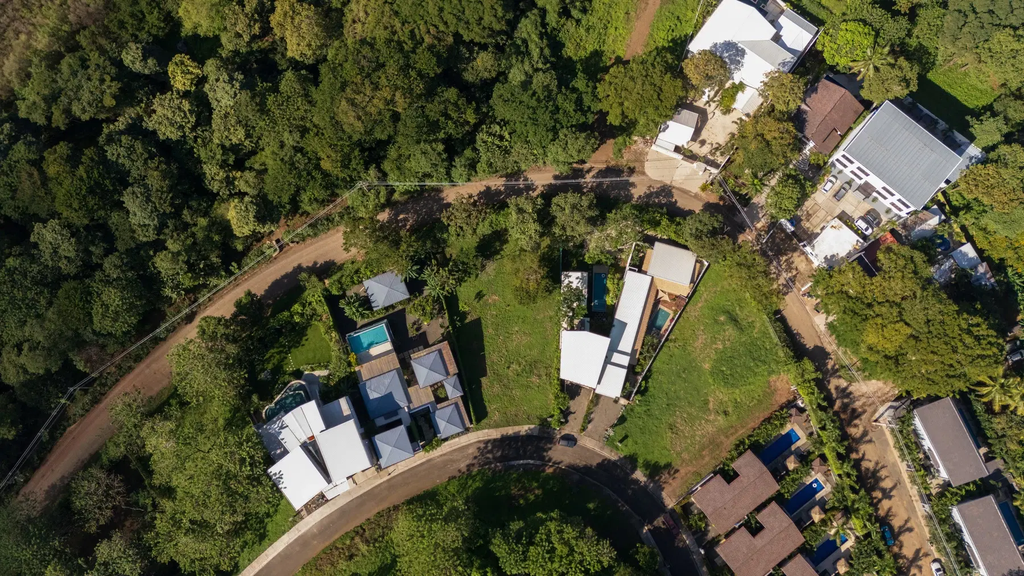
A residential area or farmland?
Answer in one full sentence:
The area seen from above is a residential area.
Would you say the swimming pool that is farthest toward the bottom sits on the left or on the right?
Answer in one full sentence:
The swimming pool that is farthest toward the bottom is on the right side of the image.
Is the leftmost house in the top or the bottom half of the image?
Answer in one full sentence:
It is in the bottom half that the leftmost house appears.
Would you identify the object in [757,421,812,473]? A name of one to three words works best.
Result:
swimming pool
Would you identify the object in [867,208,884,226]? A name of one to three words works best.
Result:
car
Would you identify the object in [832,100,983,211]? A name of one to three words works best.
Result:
house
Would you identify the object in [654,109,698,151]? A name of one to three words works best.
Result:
shed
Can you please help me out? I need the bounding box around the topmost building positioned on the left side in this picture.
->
[363,270,409,310]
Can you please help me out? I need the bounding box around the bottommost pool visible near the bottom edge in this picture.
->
[805,527,856,572]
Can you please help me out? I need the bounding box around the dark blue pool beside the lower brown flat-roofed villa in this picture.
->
[997,499,1024,549]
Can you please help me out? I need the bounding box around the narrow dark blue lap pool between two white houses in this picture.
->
[592,265,609,311]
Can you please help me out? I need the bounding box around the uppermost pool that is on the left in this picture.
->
[348,319,397,365]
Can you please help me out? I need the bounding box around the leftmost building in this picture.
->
[258,395,377,510]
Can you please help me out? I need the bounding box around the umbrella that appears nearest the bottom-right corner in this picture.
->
[834,558,849,573]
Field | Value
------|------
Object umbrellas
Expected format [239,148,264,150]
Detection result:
[810,506,824,521]
[834,558,849,573]
[785,454,799,469]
